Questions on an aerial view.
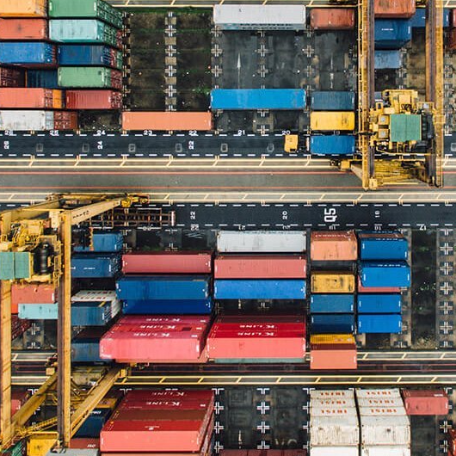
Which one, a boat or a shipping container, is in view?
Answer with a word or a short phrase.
shipping container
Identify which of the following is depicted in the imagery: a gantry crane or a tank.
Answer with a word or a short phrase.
gantry crane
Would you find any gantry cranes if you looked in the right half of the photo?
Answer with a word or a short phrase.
Yes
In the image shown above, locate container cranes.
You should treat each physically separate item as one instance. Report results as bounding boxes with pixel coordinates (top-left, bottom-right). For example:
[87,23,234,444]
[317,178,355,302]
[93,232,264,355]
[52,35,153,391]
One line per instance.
[0,188,149,456]
[330,0,446,189]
